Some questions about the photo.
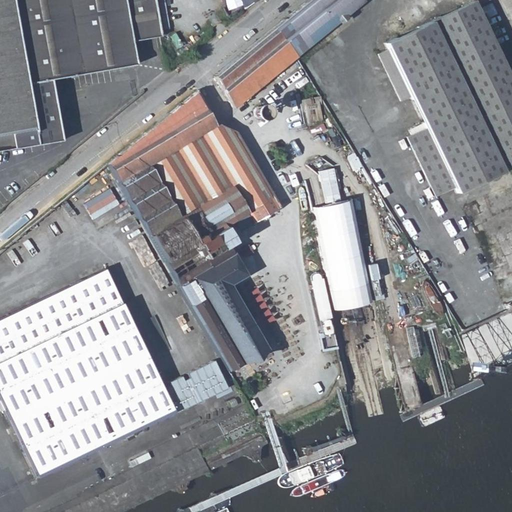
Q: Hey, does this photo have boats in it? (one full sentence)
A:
Yes, a boat can be made out from above.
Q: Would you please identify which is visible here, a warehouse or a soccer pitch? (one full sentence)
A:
Looking from above, you can make out a warehouse.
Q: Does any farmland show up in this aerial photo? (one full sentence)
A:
No, farmland can't be seen anywhere here.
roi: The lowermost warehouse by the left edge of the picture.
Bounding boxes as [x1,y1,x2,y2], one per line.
[0,268,178,478]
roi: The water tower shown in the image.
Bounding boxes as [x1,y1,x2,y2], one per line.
[254,104,277,120]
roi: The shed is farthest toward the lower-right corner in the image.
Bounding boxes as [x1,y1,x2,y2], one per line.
[406,325,426,358]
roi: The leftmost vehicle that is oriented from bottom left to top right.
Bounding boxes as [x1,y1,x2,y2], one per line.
[0,210,34,242]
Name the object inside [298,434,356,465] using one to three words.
pier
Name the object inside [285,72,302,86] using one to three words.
vehicle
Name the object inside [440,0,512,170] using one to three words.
building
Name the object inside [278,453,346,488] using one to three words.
boat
